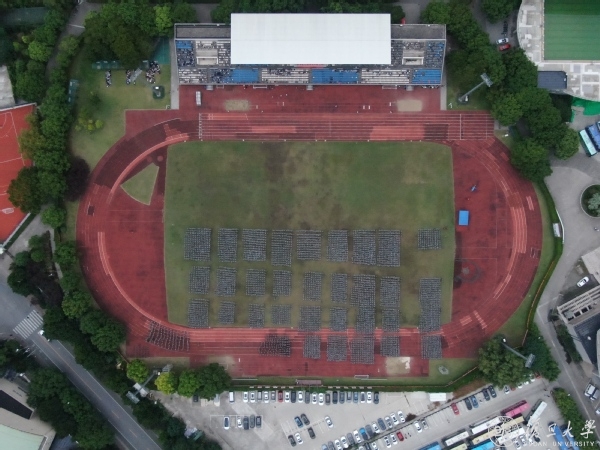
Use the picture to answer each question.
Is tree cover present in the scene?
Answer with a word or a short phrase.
Yes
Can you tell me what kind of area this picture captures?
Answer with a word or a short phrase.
sports ground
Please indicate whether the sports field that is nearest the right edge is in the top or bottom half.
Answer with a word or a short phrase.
top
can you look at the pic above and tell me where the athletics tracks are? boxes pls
[76,86,542,377]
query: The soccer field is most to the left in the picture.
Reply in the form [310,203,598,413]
[165,141,455,328]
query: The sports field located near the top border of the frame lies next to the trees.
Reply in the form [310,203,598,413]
[540,0,600,63]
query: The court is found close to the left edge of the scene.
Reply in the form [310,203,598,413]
[0,107,39,243]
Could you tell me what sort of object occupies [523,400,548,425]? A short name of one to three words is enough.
bus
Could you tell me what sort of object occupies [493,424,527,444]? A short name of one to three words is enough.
vehicle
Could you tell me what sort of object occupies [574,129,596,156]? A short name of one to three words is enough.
bus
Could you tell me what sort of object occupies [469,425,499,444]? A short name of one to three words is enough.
vehicle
